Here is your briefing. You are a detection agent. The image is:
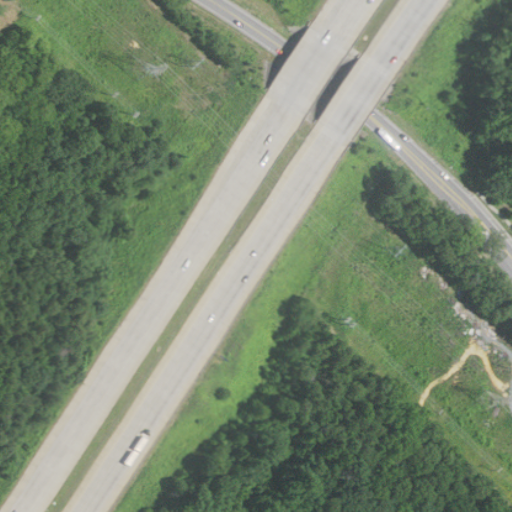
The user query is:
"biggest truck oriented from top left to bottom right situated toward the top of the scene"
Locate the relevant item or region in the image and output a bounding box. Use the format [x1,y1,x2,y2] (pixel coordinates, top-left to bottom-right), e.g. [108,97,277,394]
[374,126,400,151]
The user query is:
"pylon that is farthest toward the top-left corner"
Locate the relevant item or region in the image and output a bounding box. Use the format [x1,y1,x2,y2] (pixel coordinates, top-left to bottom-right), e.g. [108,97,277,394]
[144,62,169,80]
